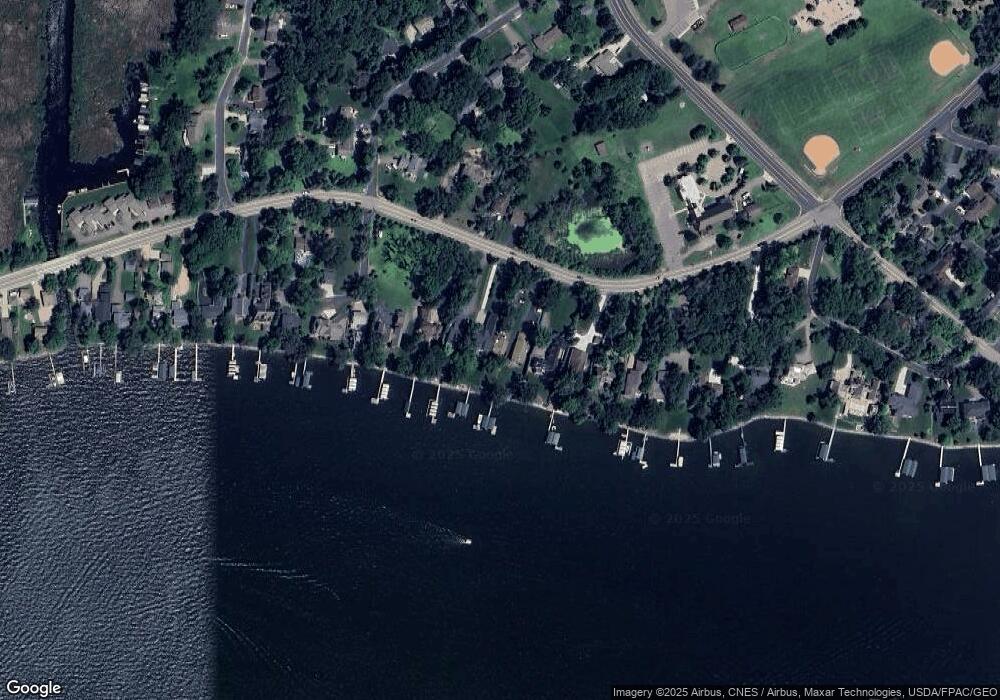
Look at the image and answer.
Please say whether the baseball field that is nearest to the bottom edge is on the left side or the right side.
right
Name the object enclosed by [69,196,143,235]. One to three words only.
building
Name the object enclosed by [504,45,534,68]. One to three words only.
house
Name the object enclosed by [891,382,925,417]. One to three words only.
house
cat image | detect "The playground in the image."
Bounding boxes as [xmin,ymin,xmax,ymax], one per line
[795,0,863,35]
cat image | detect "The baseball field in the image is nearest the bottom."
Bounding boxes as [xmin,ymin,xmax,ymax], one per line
[797,134,846,179]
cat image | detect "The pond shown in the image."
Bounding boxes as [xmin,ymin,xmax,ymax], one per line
[568,207,624,255]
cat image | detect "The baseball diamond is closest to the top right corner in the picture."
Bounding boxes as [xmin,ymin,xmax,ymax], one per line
[929,34,973,83]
